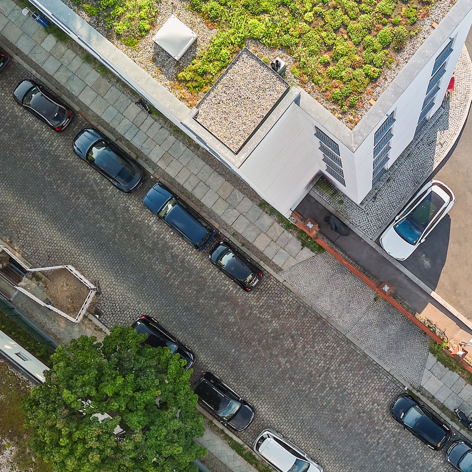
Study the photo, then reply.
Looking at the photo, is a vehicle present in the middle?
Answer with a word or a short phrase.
Yes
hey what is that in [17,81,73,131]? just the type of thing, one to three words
car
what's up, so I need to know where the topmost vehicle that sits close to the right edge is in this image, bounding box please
[386,183,452,257]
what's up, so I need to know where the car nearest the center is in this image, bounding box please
[212,243,263,291]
